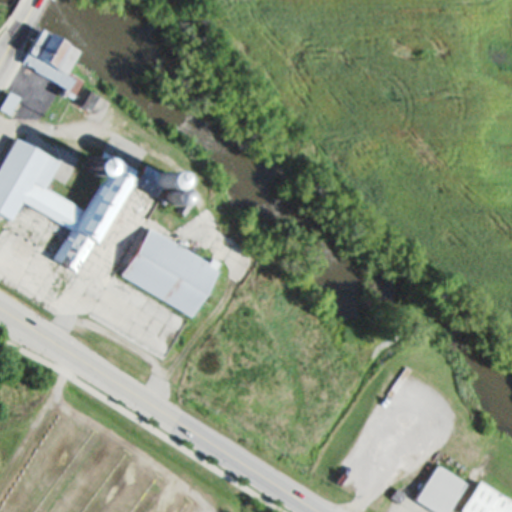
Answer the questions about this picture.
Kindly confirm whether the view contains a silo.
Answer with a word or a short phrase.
Yes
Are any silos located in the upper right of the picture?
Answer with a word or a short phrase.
No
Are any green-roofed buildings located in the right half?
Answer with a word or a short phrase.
No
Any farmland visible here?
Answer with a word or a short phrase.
Yes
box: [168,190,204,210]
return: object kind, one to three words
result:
silo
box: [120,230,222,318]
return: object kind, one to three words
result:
barn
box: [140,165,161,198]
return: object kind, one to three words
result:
shed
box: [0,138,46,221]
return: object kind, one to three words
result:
building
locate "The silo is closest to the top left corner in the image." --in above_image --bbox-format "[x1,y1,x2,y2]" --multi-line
[83,157,126,180]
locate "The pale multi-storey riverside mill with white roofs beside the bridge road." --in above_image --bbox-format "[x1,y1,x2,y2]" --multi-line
[20,30,82,92]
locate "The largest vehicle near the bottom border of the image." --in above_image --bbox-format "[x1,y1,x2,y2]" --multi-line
[338,467,351,488]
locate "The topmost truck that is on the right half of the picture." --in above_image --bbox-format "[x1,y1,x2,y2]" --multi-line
[386,366,408,401]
